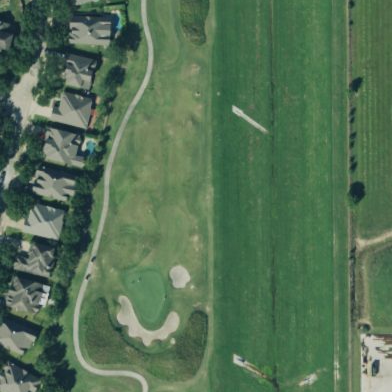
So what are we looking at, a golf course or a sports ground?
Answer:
golf course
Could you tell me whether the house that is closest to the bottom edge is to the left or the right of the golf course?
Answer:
to the left of it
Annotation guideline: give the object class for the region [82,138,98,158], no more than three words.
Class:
swimming pool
